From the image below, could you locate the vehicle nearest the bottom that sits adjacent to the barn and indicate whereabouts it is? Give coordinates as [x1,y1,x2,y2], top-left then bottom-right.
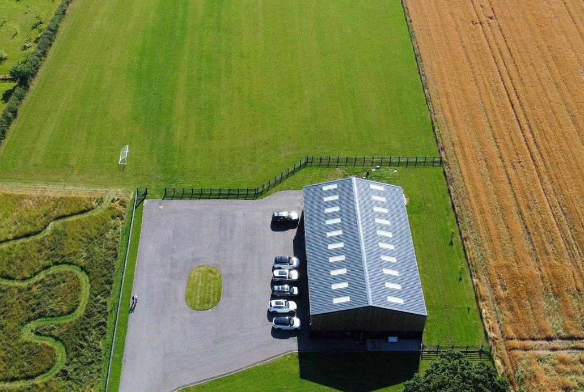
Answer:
[271,316,302,332]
